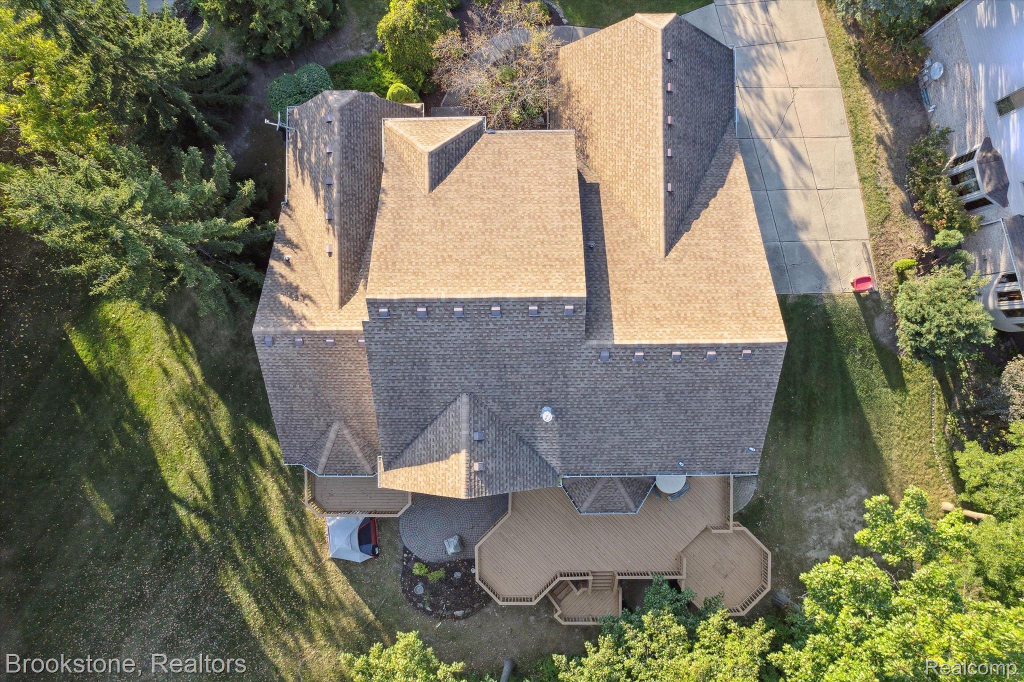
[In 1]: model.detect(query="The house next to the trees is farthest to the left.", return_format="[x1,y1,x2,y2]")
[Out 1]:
[254,14,787,516]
